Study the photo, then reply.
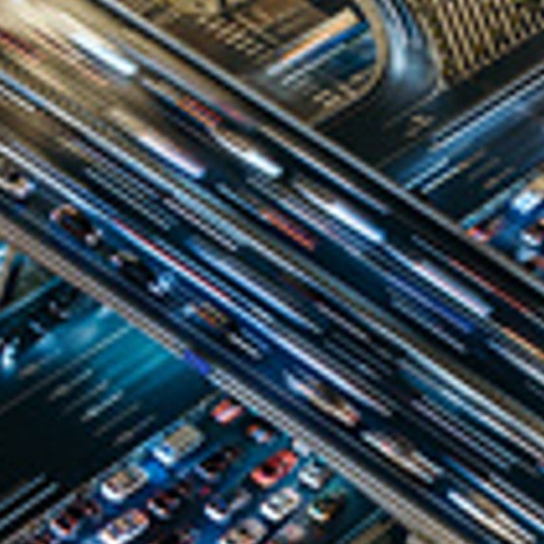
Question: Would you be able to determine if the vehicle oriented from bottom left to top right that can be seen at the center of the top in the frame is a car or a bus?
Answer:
bus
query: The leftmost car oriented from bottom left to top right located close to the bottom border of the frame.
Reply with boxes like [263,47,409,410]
[48,495,98,537]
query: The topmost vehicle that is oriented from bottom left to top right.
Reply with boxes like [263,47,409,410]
[275,3,360,77]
